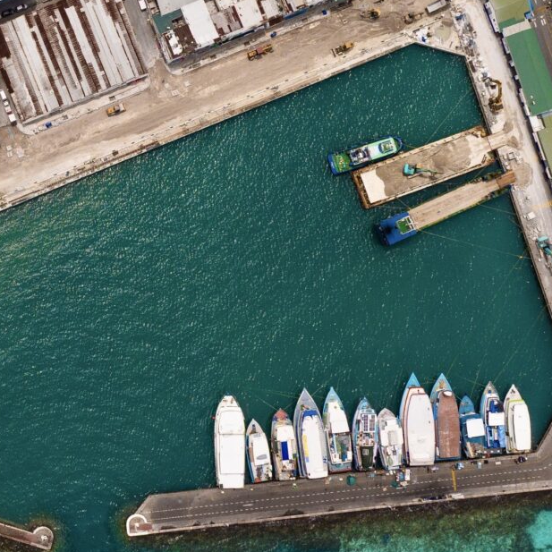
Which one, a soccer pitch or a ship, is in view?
ship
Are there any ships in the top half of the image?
Yes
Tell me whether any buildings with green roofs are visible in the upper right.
Yes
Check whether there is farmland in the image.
No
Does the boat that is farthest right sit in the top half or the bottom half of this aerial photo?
bottom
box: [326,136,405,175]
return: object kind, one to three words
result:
boat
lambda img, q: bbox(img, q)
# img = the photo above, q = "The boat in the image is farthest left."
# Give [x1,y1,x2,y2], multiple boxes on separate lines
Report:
[212,391,246,489]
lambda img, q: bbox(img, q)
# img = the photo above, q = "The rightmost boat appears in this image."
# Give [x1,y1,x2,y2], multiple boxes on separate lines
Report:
[501,384,534,454]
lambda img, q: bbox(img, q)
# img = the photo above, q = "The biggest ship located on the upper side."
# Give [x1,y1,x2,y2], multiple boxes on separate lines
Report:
[350,124,520,208]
